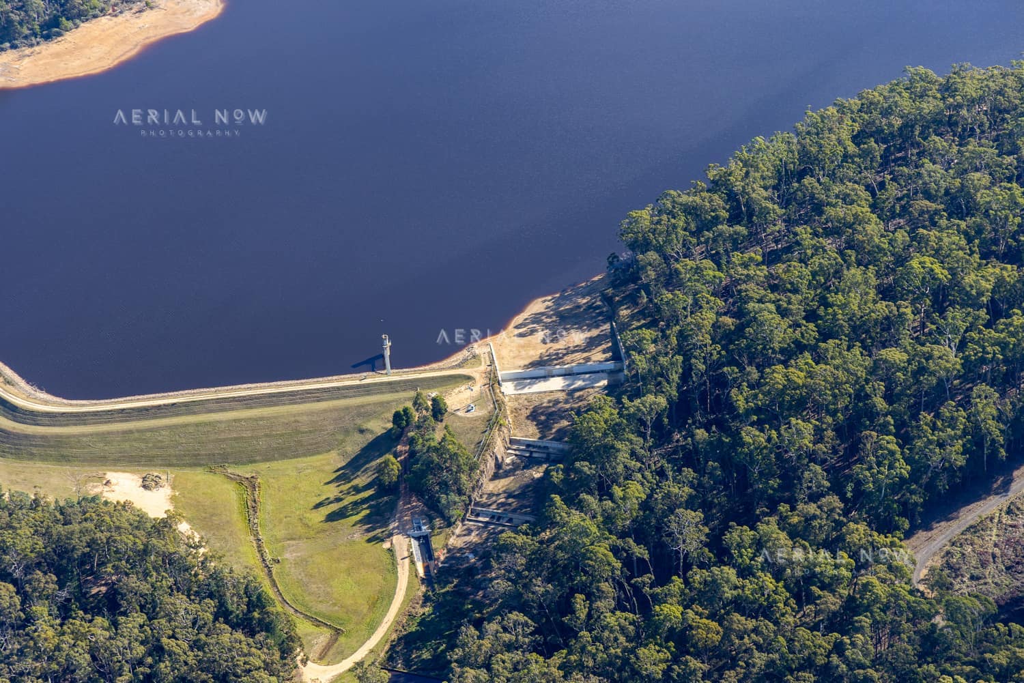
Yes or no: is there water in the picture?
Yes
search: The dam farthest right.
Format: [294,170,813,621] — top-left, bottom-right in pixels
[501,362,622,386]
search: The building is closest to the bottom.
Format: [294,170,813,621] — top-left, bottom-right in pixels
[405,513,434,541]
